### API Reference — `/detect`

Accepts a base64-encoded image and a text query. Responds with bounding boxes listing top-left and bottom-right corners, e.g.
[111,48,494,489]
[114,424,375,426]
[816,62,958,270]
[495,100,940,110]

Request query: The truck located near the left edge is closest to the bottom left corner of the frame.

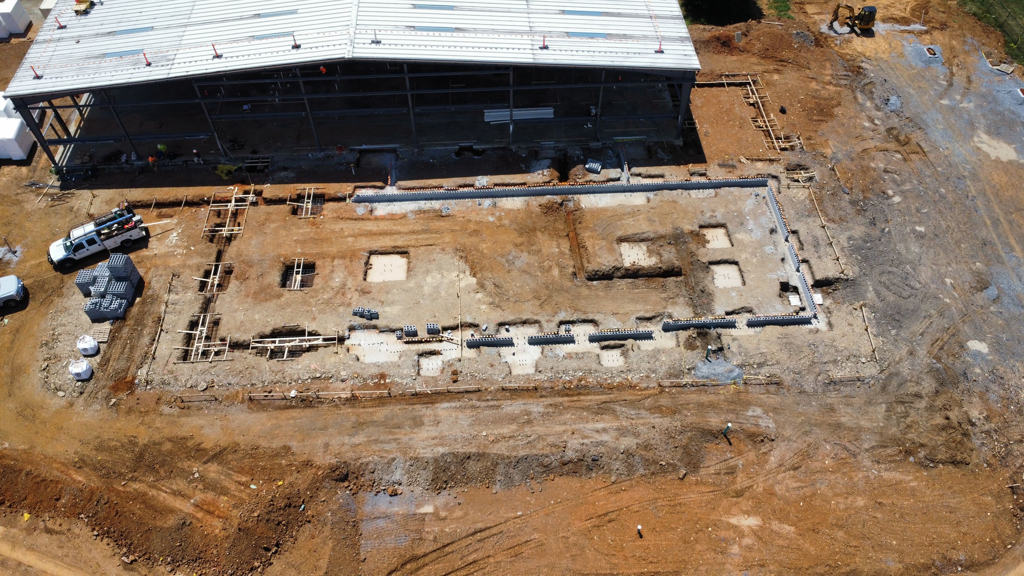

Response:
[0,280,30,311]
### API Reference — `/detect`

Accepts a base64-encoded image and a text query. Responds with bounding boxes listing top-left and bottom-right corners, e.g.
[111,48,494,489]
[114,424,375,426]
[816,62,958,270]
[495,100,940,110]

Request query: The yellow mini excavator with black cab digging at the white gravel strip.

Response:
[826,3,879,40]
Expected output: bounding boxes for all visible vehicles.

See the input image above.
[41,204,151,269]
[826,3,879,40]
[0,280,30,311]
